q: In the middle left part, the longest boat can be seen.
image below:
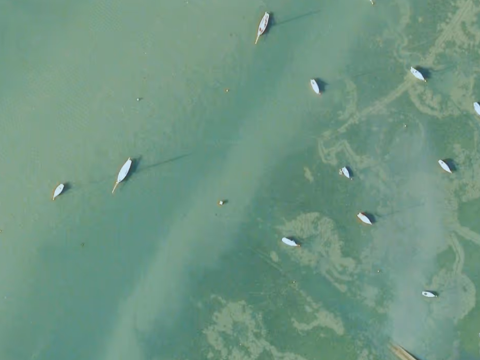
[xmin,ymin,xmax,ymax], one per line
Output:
[111,157,133,192]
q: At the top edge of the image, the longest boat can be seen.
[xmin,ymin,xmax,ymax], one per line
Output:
[256,11,269,40]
